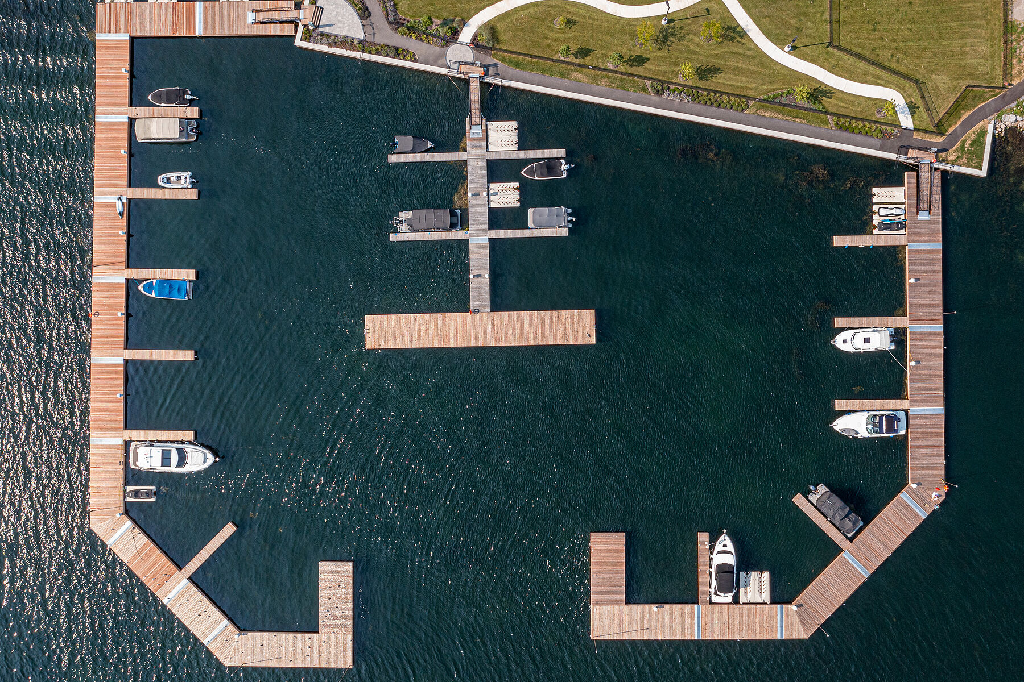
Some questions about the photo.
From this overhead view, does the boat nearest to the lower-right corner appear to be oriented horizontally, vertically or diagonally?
diagonally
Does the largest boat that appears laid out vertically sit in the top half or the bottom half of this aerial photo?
bottom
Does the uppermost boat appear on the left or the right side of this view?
left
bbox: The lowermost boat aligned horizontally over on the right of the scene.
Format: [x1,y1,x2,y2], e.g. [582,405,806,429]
[831,410,908,439]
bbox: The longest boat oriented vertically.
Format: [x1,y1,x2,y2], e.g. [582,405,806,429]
[709,531,737,604]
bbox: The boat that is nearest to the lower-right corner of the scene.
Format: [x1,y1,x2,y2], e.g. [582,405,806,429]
[804,481,863,536]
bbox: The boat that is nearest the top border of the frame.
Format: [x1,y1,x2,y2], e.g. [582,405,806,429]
[149,86,199,107]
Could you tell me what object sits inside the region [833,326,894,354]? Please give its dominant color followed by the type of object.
white boat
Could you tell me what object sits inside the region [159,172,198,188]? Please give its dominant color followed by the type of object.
white boat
